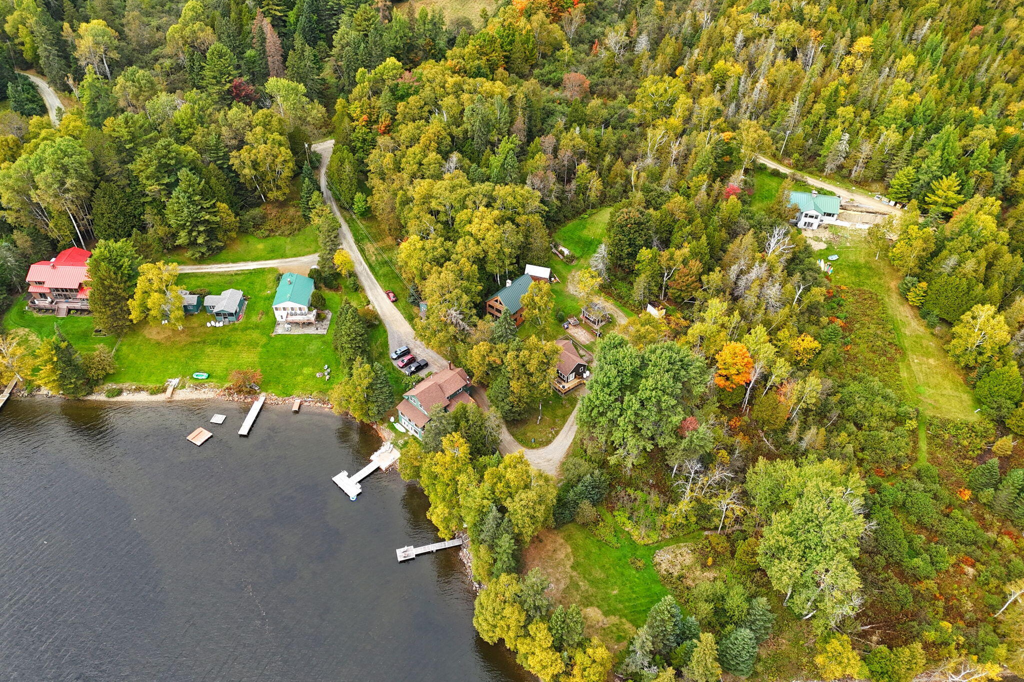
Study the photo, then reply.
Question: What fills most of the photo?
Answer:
trees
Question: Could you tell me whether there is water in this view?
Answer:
Yes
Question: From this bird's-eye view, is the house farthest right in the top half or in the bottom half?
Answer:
top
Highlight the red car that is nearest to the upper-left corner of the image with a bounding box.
[385,289,397,302]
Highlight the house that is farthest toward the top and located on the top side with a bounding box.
[788,190,840,227]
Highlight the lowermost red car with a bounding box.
[396,353,416,368]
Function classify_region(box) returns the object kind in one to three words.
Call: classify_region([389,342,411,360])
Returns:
car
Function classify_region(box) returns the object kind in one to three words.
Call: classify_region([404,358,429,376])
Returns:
vehicle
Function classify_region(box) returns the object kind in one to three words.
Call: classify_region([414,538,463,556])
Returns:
pier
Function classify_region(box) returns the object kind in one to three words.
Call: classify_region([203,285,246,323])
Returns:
building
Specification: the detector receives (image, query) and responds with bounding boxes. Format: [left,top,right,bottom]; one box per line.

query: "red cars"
[396,353,416,368]
[385,289,397,302]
